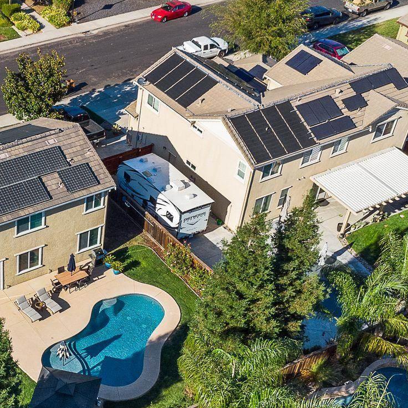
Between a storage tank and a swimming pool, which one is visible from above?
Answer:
swimming pool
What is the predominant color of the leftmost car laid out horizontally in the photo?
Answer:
red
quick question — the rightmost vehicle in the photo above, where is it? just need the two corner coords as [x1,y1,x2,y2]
[341,0,390,18]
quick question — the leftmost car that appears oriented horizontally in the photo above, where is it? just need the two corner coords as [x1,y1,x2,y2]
[149,0,194,20]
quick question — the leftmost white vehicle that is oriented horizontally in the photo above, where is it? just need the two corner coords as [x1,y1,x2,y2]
[176,34,235,59]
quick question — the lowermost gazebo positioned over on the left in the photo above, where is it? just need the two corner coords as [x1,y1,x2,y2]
[29,368,102,408]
